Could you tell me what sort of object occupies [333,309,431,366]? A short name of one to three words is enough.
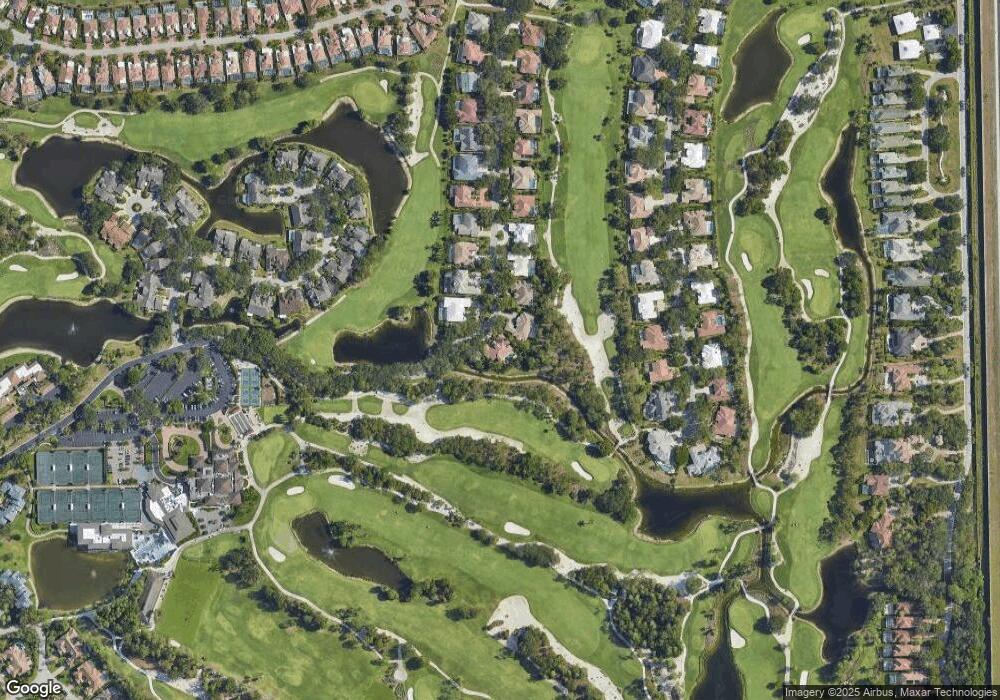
pond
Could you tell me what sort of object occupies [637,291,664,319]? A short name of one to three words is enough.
house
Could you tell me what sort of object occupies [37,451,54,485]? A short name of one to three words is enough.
tennis court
